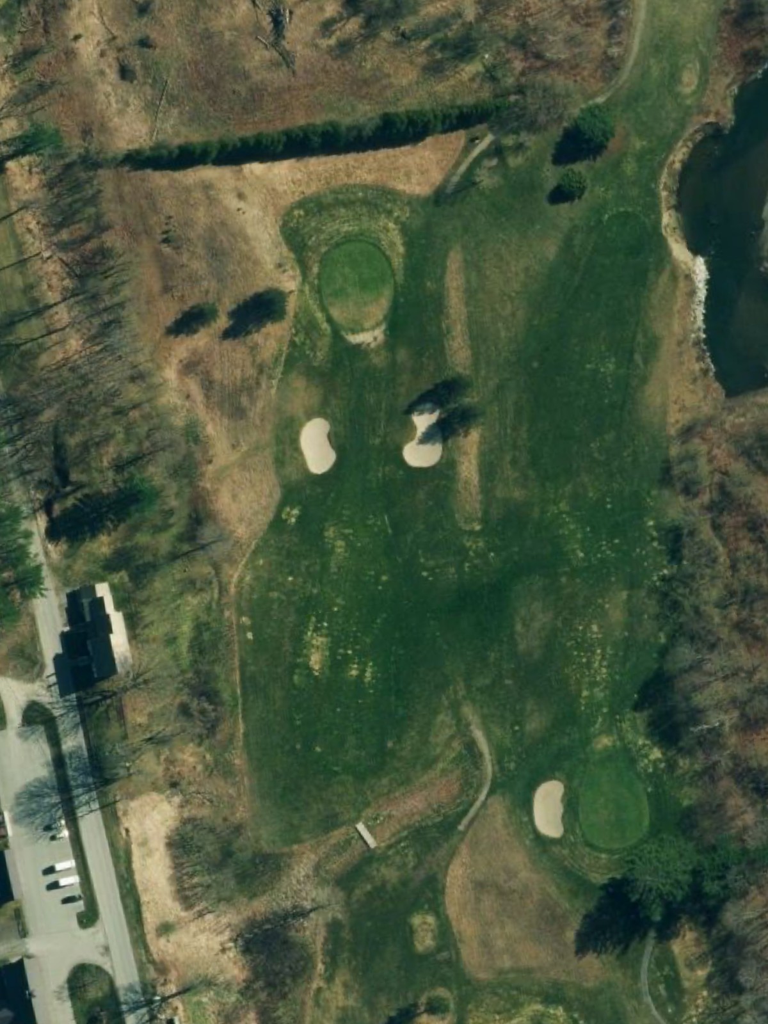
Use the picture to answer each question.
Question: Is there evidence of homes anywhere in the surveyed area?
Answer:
Yes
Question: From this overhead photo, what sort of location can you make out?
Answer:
golf course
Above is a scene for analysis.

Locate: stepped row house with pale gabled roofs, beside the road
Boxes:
[82,579,134,678]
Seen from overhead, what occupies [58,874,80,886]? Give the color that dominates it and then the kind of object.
white vehicle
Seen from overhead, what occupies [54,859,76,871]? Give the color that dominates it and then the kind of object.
white vehicle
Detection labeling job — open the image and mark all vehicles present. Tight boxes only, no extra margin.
[58,874,80,886]
[49,819,67,829]
[54,859,76,871]
[66,894,83,903]
[53,829,70,839]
